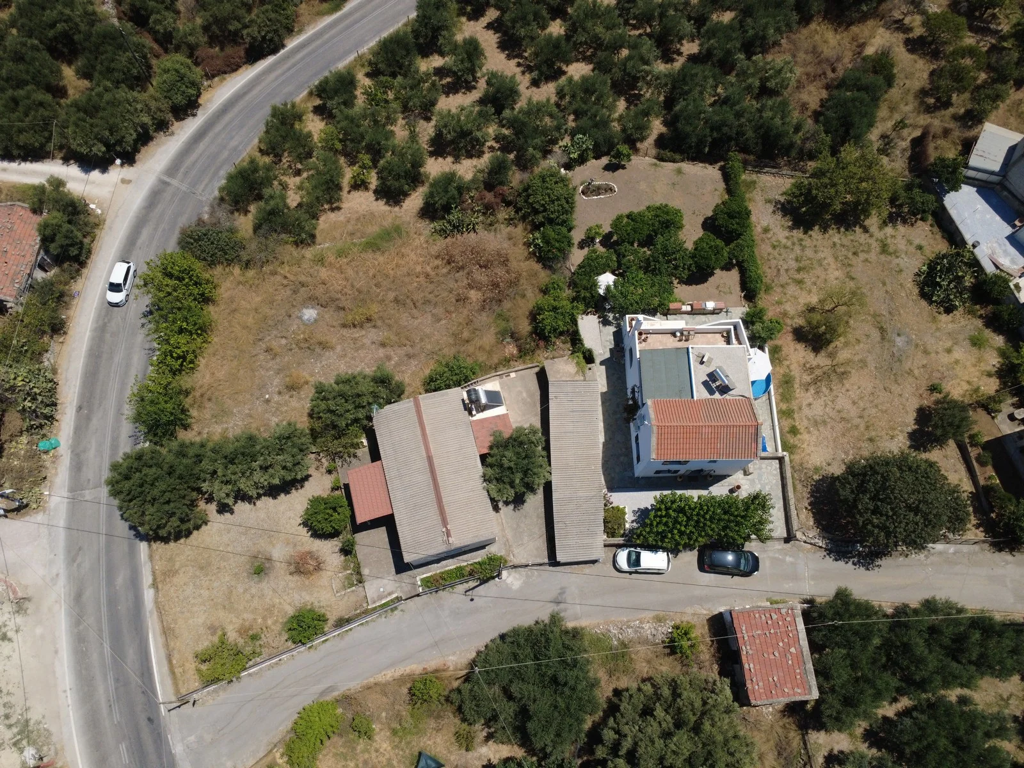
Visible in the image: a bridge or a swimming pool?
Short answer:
swimming pool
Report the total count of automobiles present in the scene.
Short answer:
3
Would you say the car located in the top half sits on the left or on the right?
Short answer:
left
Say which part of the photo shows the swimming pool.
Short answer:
right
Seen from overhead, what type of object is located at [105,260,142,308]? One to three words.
car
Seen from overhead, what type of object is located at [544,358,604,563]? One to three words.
shed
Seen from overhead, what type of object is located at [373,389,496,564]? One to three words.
building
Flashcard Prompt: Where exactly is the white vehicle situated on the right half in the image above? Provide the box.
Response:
[612,545,672,577]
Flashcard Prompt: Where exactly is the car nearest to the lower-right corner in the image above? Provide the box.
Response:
[697,547,759,580]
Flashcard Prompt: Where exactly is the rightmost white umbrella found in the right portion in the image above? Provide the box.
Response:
[744,350,772,376]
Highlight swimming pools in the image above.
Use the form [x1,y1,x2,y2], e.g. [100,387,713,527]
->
[745,371,776,401]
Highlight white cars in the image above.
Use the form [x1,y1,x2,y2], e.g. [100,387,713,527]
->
[105,260,142,308]
[612,545,672,577]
